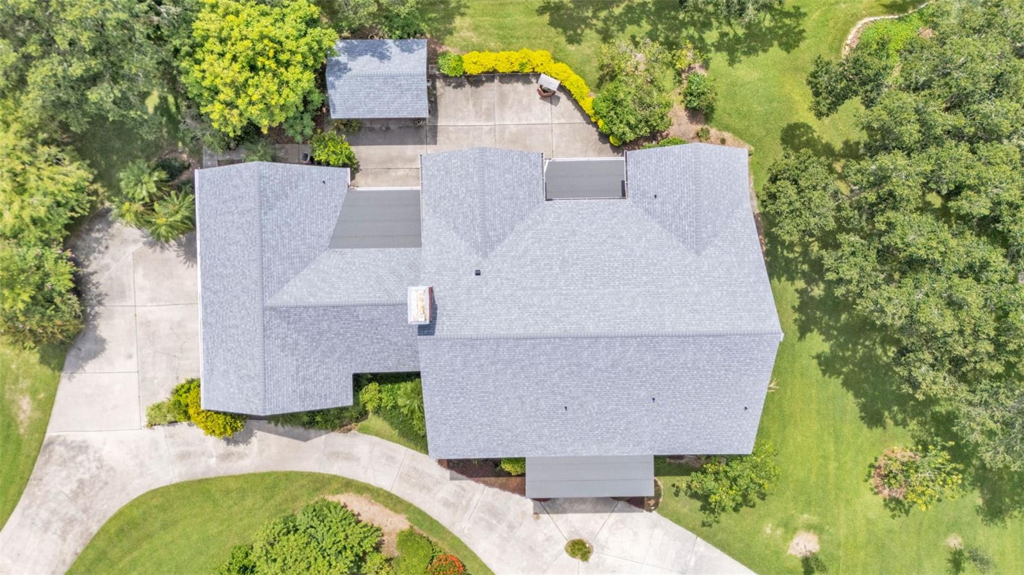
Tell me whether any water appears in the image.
No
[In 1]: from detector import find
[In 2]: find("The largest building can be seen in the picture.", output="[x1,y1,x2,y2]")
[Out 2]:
[195,142,783,499]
